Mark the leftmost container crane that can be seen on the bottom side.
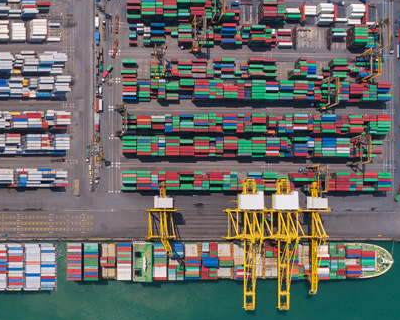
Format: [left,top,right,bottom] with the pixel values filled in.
[137,182,179,251]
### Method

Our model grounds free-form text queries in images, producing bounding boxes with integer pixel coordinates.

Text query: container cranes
[305,161,328,193]
[252,176,305,312]
[148,42,165,77]
[357,45,381,79]
[347,131,371,163]
[316,74,339,109]
[365,15,390,51]
[137,182,179,251]
[285,185,332,294]
[216,176,268,312]
[187,15,206,51]
[111,102,128,135]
